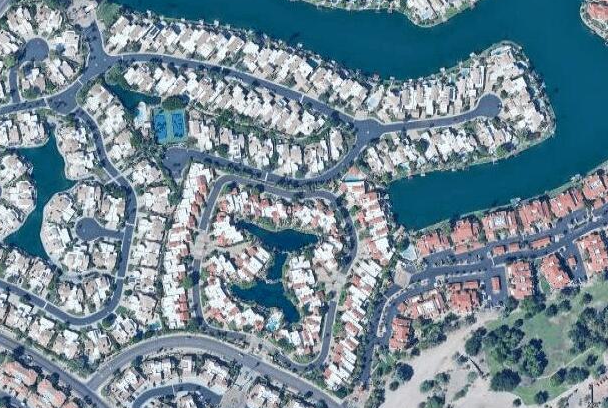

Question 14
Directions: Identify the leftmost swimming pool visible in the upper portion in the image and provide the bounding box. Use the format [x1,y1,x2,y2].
[133,102,146,129]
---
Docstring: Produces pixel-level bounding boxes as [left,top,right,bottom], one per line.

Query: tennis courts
[170,108,185,143]
[154,108,170,143]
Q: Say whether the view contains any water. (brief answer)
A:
Yes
